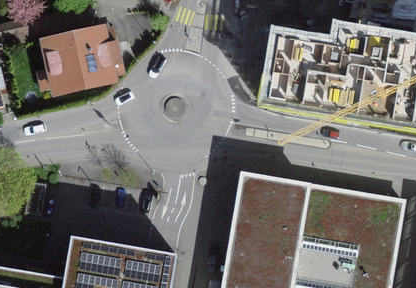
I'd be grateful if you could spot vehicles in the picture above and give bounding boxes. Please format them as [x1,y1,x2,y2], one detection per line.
[114,90,136,104]
[149,52,166,76]
[116,186,126,208]
[319,126,341,138]
[90,184,102,207]
[400,140,416,151]
[24,122,46,134]
[142,189,153,214]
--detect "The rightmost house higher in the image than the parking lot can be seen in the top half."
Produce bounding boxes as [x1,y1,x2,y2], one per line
[37,24,126,96]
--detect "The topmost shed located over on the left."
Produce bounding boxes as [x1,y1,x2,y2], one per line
[0,19,29,44]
